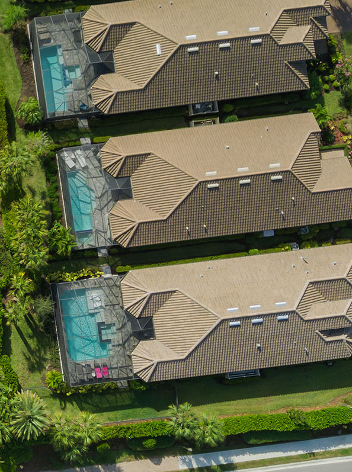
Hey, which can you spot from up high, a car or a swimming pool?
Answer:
swimming pool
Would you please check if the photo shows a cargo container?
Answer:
No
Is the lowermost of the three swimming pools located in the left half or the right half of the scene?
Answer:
left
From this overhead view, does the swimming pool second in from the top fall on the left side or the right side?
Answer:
left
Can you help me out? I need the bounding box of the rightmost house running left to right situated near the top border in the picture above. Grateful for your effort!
[80,0,333,116]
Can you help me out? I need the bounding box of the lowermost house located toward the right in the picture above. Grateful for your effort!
[118,242,352,380]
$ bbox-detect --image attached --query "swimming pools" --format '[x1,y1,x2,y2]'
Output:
[40,44,85,113]
[60,288,118,363]
[67,169,98,246]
